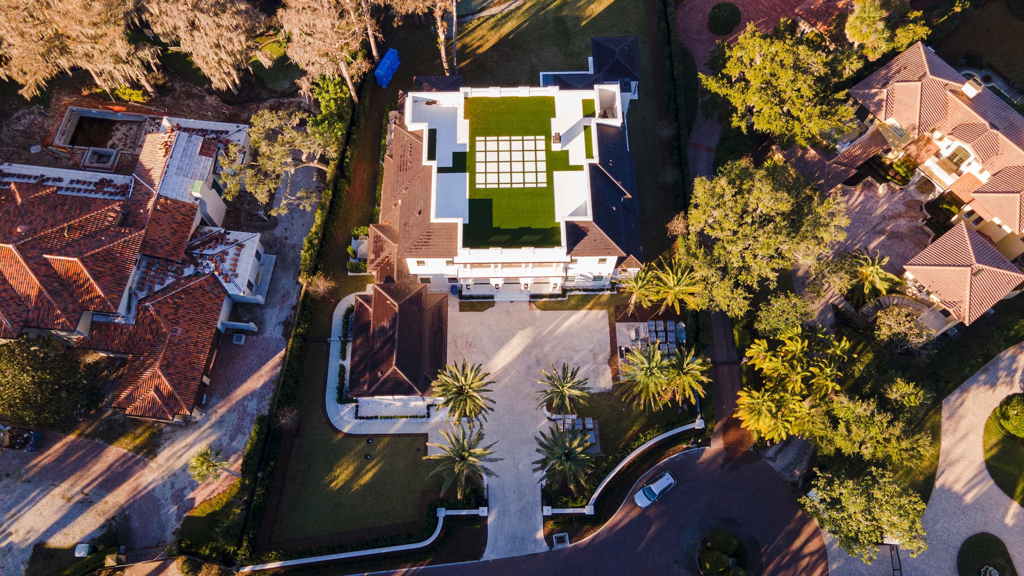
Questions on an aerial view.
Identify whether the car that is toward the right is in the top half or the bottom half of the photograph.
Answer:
bottom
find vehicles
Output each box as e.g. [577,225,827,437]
[633,467,681,511]
[73,544,104,558]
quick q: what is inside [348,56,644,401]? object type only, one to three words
house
